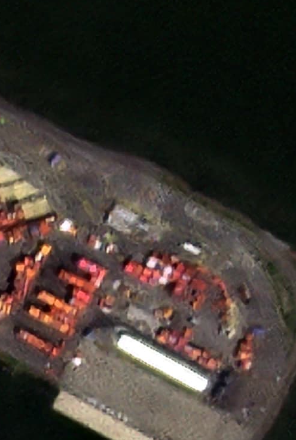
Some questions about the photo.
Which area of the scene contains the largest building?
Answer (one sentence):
The largest building appears toward the bottom of the photo.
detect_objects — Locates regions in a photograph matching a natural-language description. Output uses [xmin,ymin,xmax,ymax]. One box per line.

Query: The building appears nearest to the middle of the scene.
[109,203,154,237]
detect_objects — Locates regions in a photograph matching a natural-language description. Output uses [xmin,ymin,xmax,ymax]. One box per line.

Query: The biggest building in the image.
[117,333,210,391]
